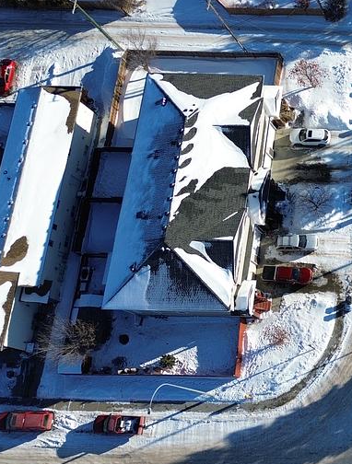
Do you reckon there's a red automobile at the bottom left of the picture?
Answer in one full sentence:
Yes, looking at the bottom left of the picture, one can make out a red automobile.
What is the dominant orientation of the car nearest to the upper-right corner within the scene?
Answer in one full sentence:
In this picture, the car nearest to the upper-right corner is oriented from side to side.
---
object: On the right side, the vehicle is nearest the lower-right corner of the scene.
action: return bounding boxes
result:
[260,264,315,286]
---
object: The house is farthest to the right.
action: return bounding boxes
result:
[105,74,289,317]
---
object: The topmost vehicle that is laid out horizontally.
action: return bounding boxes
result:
[290,129,332,149]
